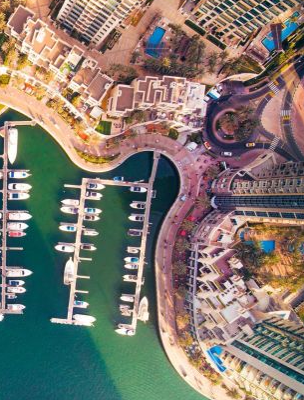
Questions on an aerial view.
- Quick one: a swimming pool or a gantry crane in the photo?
swimming pool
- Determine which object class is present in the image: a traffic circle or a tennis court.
traffic circle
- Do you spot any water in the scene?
Yes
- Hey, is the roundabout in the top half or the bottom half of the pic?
top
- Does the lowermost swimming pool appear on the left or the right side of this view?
right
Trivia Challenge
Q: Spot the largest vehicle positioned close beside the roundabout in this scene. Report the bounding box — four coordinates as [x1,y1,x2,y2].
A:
[207,85,223,100]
